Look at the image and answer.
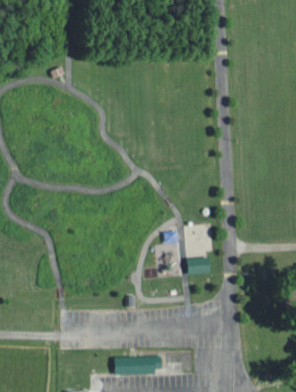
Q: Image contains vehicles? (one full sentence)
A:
No, I find no vehicle anywhere in the image.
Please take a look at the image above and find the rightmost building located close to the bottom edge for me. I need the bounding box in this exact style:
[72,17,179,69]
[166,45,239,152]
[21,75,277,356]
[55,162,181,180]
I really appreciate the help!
[114,357,162,374]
